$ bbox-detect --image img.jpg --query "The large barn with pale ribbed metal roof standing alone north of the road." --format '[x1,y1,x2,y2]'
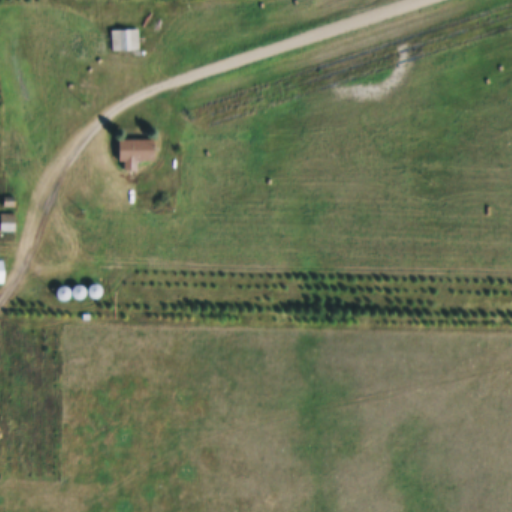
[112,28,140,51]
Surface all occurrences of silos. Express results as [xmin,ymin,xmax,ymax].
[56,286,72,302]
[88,284,104,300]
[72,285,88,301]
